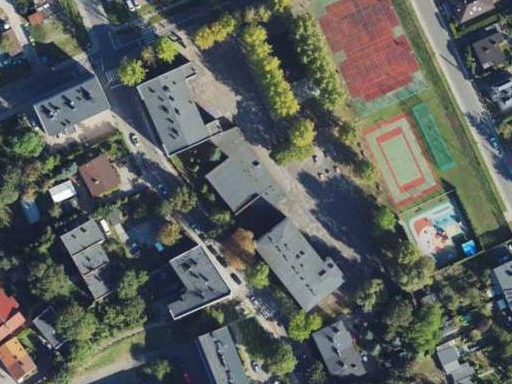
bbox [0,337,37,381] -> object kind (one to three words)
house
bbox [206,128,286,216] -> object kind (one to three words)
building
